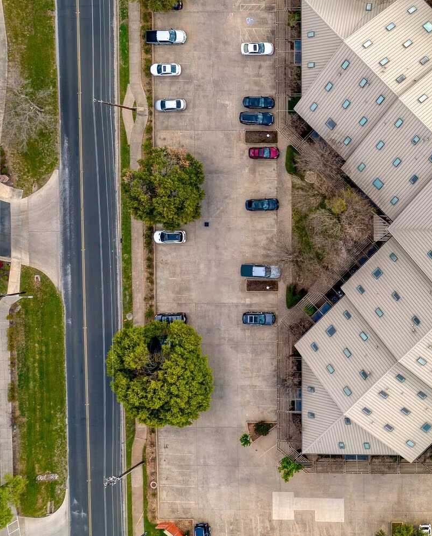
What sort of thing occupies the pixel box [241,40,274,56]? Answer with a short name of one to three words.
car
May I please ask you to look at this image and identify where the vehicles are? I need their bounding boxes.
[248,145,281,160]
[152,0,186,13]
[243,94,276,110]
[151,61,184,77]
[242,311,276,326]
[154,311,189,325]
[194,521,212,536]
[239,110,275,125]
[419,522,432,536]
[241,40,274,56]
[245,197,280,212]
[240,264,282,280]
[145,28,188,45]
[156,96,189,112]
[154,229,189,245]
